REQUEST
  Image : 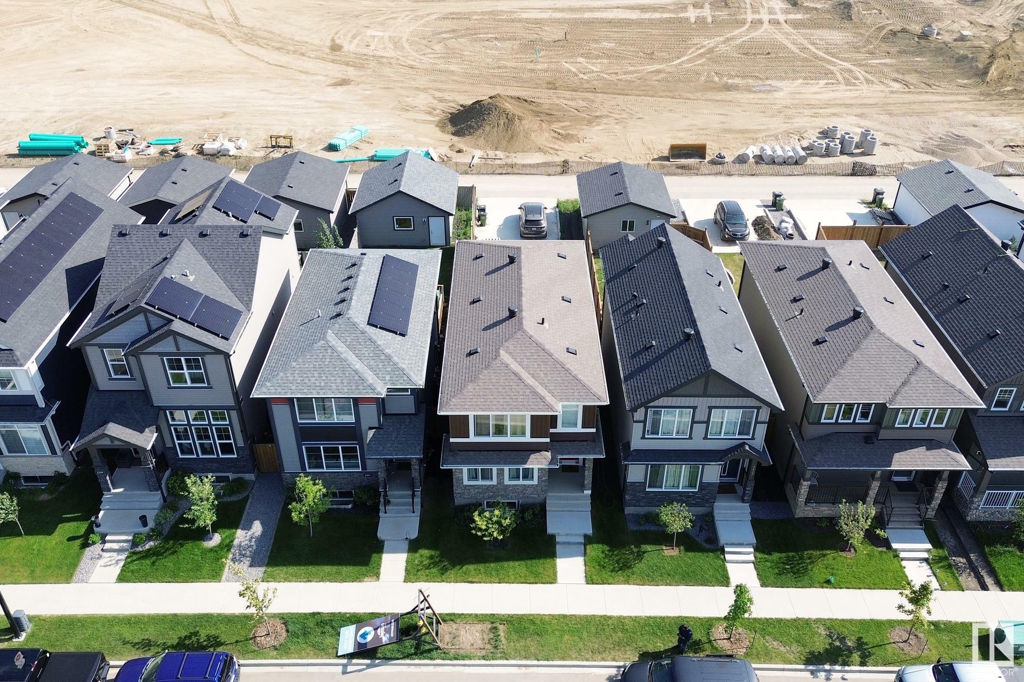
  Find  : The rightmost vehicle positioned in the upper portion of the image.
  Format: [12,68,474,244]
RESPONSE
[710,197,751,238]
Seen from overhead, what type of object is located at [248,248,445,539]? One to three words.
house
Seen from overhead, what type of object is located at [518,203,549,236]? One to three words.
car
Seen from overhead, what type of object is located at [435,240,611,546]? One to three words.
house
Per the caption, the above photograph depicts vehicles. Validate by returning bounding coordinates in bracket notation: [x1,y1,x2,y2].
[113,652,243,682]
[619,658,760,682]
[518,203,549,236]
[0,646,120,682]
[710,197,751,238]
[891,659,1024,682]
